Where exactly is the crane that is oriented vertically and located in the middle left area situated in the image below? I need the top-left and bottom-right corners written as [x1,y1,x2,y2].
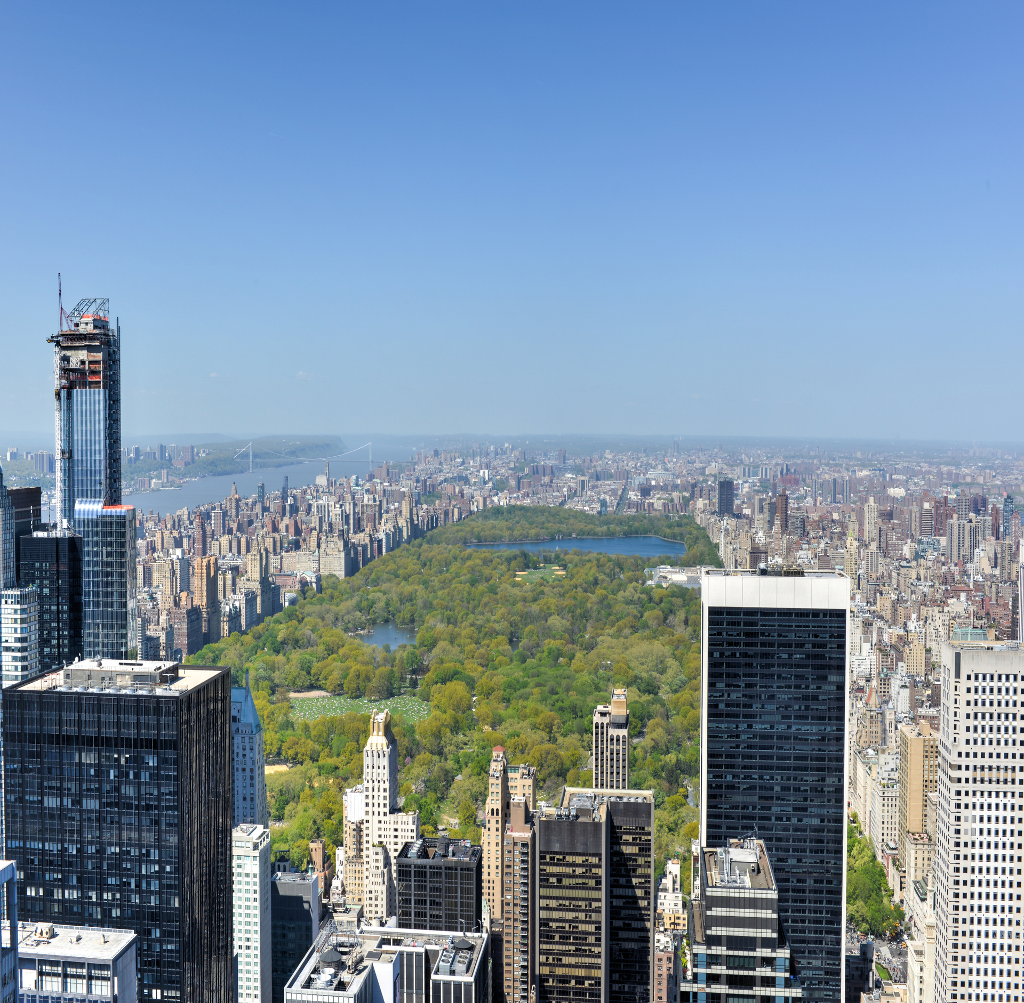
[45,273,79,530]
